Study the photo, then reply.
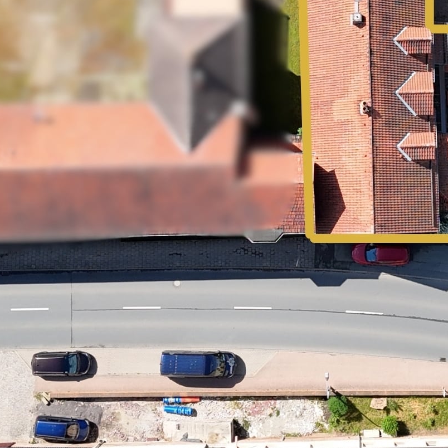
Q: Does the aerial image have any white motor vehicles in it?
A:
No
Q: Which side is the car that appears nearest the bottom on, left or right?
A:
left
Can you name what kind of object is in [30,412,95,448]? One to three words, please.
car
